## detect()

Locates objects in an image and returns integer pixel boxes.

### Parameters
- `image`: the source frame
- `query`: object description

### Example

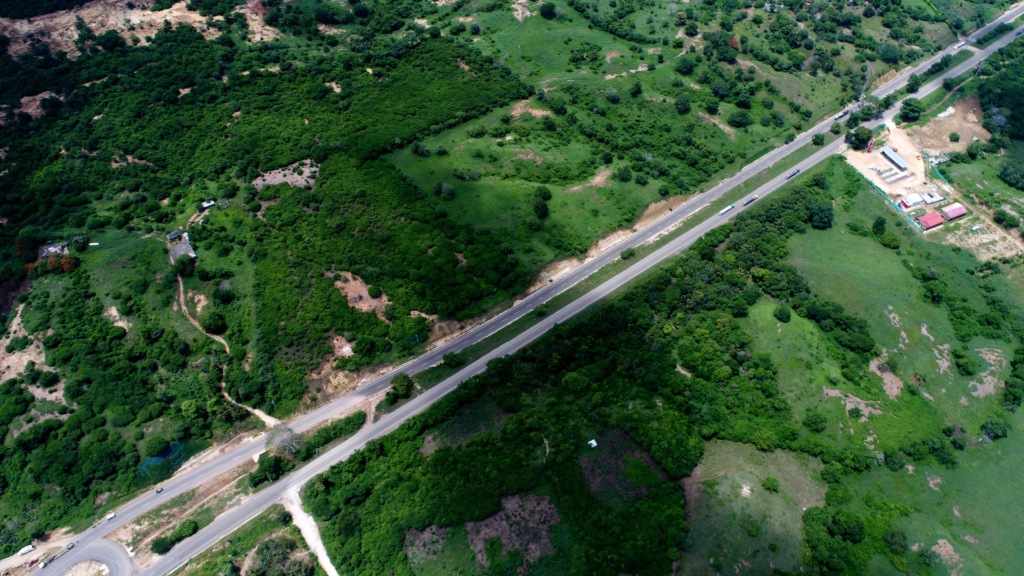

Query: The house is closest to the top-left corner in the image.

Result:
[39,242,71,261]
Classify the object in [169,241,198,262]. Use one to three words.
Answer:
house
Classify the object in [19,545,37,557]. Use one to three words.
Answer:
vehicle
